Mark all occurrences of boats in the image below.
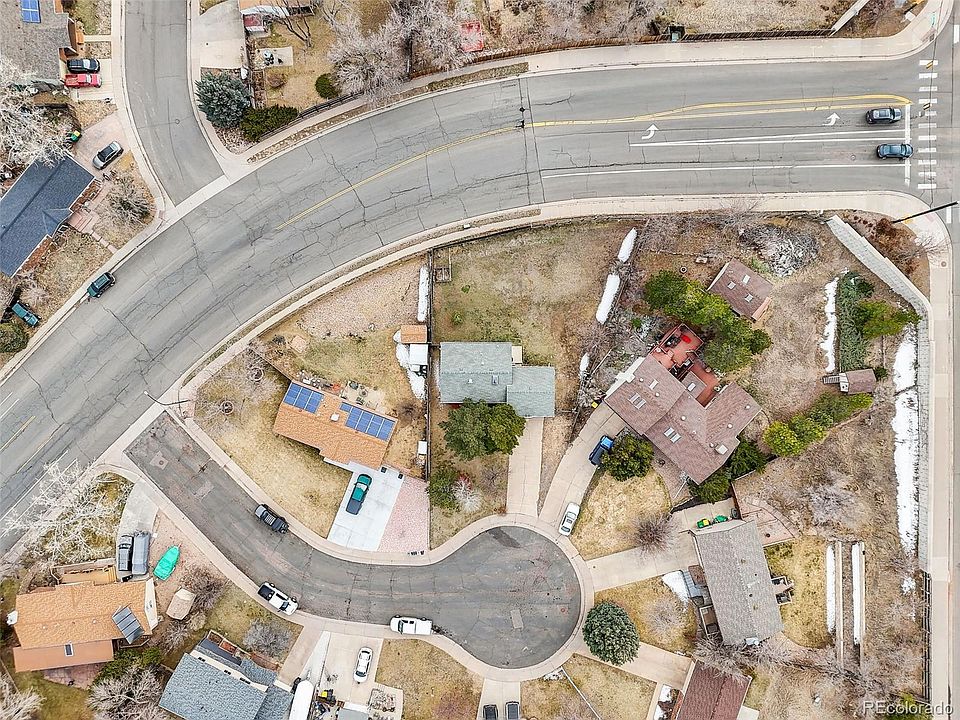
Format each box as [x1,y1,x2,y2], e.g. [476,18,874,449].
[152,542,182,581]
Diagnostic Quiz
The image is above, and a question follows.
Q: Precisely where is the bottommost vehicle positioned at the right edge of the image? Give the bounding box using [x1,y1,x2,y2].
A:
[875,142,912,160]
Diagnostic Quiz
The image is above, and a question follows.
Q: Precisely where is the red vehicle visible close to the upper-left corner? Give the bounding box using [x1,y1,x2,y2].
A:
[65,70,104,90]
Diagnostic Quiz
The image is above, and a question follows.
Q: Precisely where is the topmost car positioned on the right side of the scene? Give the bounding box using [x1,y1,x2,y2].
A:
[864,106,902,126]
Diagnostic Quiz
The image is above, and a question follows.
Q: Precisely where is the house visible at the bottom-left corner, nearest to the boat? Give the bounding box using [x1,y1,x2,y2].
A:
[3,576,160,672]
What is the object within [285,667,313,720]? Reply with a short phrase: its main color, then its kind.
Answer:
white trailer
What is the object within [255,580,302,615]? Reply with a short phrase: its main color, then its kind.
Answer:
white truck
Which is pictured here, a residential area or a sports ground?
residential area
